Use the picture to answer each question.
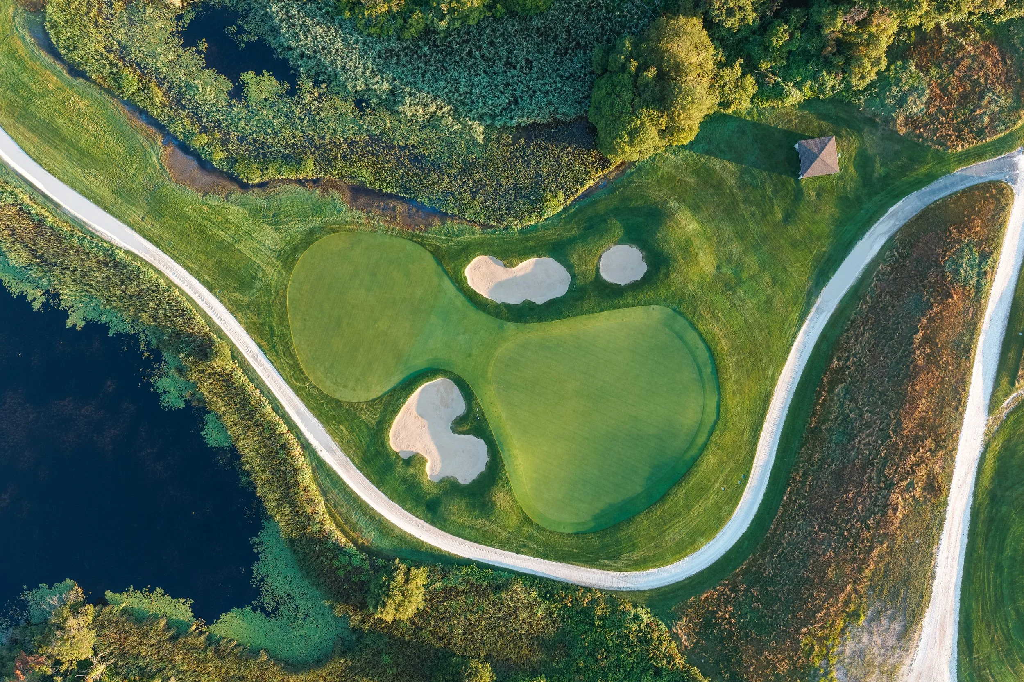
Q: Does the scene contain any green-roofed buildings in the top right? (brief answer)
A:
No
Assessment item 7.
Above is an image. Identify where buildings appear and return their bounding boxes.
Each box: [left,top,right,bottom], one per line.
[793,135,840,179]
